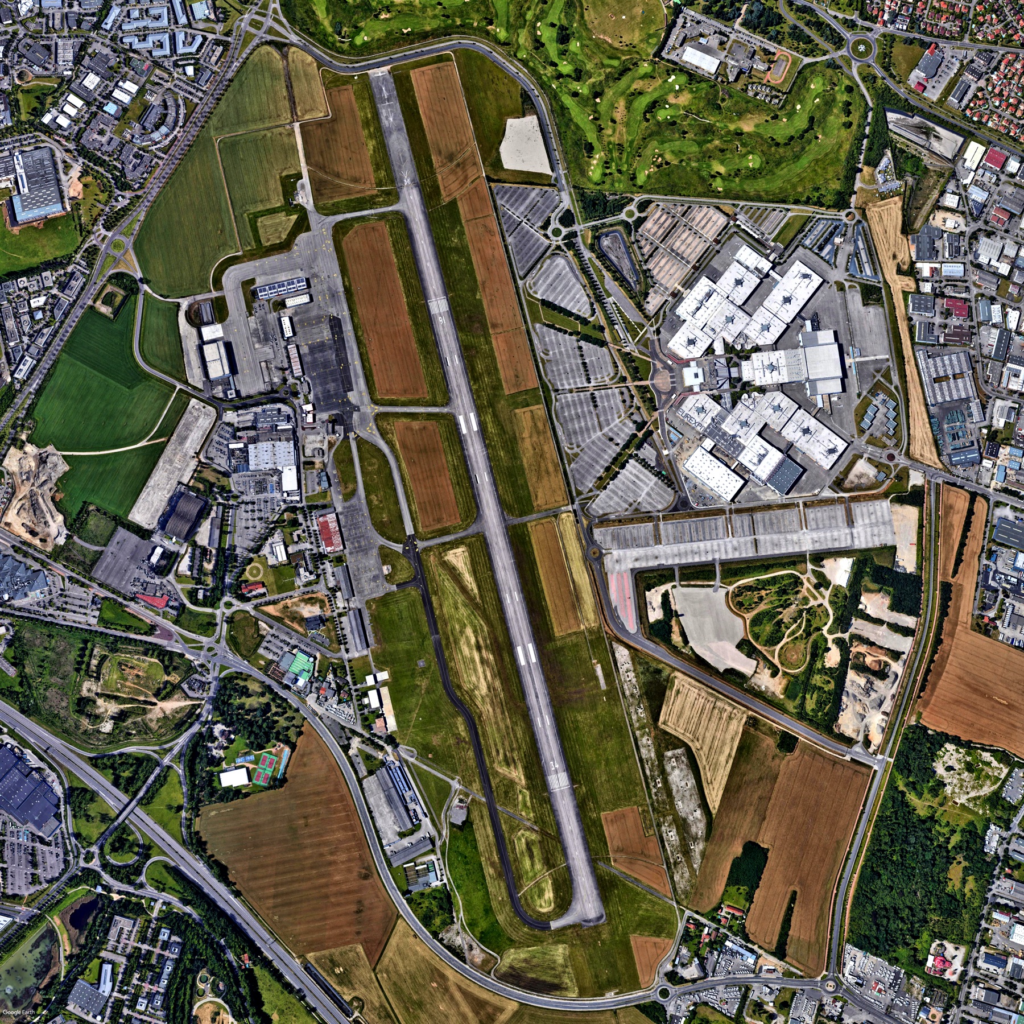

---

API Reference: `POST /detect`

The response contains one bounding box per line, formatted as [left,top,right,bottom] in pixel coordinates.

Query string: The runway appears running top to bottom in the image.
[370,68,605,925]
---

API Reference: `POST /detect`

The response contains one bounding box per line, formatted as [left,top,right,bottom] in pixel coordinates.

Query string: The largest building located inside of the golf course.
[681,47,720,76]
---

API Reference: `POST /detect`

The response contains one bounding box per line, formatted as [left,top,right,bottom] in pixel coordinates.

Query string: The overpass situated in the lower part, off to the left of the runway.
[94,728,189,851]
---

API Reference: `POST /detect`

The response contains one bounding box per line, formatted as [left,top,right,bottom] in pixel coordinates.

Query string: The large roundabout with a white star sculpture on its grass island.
[847,34,876,62]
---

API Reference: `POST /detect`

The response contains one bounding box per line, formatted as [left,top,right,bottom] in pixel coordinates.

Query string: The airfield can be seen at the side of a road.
[223,68,606,929]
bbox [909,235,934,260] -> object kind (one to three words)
building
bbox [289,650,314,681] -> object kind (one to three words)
hangar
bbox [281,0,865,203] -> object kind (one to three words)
golf course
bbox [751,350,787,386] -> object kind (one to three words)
building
